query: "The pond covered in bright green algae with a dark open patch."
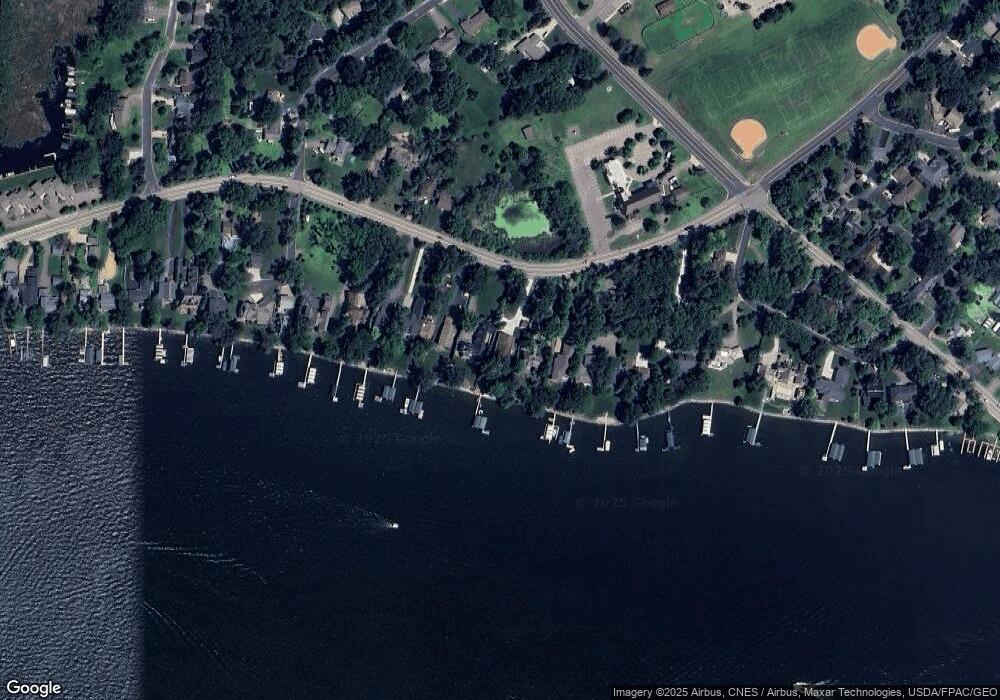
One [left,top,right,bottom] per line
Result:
[494,198,549,238]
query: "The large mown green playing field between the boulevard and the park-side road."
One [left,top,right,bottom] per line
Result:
[652,0,914,183]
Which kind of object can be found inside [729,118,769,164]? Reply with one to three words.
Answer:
baseball field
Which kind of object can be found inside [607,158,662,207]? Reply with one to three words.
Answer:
building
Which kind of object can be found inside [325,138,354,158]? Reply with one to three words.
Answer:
house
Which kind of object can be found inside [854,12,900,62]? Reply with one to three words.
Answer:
baseball field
